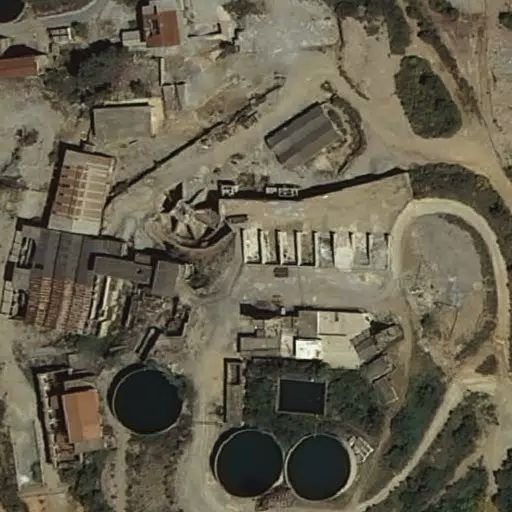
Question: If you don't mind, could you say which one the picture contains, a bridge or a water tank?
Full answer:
This aerial view contains a water tank.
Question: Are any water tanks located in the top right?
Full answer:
No, the scene shows no water tank in the top right.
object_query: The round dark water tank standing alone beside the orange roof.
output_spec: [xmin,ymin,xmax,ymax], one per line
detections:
[113,366,183,436]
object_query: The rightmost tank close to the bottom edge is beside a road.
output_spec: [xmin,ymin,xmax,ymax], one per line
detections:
[284,433,357,502]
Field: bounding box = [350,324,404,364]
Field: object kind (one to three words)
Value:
shed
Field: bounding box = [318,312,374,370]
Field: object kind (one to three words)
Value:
building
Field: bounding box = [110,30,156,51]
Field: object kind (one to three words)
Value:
shed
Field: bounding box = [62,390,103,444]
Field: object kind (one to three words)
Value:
building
